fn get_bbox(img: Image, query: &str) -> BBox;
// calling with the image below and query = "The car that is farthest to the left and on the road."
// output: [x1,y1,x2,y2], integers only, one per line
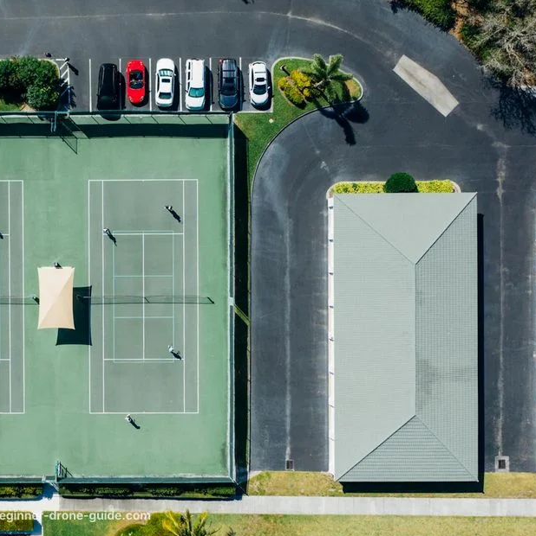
[95,60,119,111]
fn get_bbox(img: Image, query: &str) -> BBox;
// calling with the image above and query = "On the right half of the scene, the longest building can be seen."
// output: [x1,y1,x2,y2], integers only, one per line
[326,192,478,483]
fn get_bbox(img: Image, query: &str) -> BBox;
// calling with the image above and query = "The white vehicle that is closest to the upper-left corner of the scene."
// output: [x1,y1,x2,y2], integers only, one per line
[155,58,178,108]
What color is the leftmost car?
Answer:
black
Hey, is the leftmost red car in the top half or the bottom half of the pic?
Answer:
top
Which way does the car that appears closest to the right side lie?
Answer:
vertically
